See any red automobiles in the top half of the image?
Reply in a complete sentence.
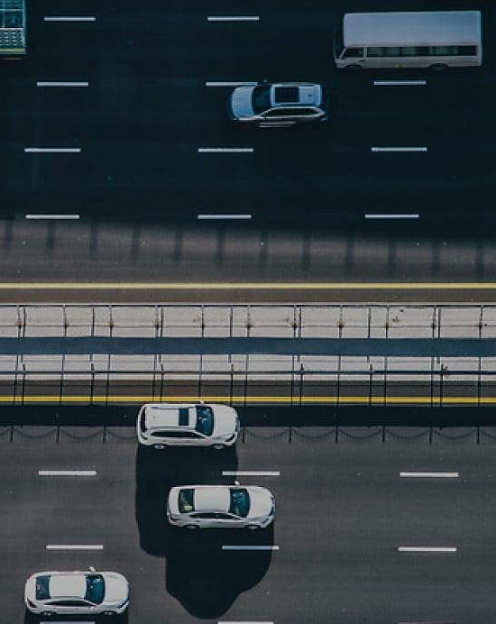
No, no red automobile appears in the top half of the image.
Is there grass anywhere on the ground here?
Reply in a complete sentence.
No, the scene doesn't show any grass.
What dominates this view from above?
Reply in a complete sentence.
The largest share of the image is taken up by paved ground.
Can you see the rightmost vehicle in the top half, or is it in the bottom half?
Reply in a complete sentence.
The top half of the photo is where the rightmost vehicle is.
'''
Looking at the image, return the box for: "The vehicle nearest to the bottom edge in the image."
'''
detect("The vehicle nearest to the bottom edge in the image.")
[24,566,131,618]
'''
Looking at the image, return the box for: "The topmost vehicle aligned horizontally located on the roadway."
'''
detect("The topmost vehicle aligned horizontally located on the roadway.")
[335,11,484,73]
